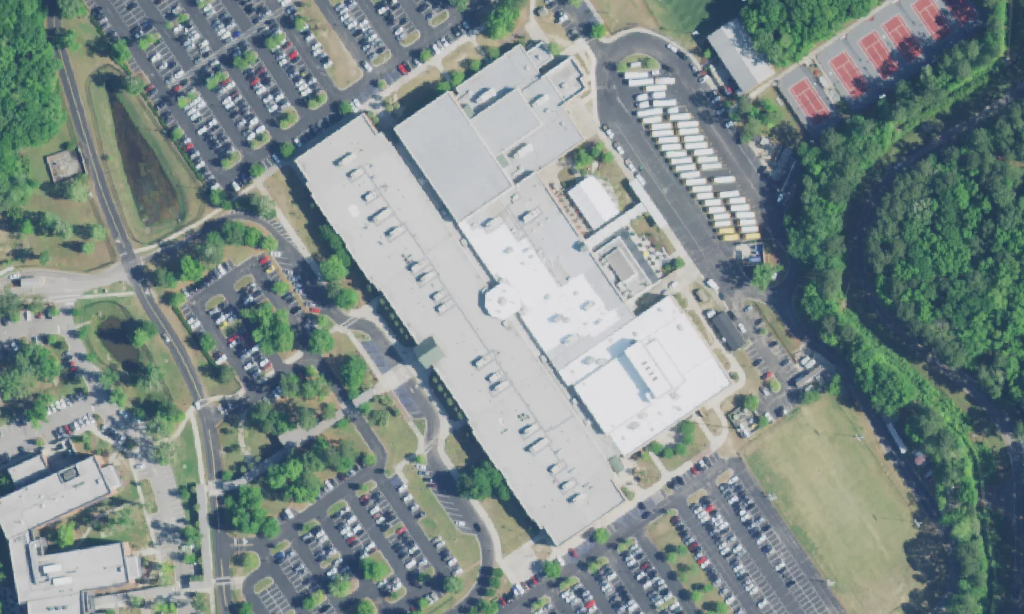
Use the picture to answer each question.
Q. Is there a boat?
No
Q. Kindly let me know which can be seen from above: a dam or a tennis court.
tennis court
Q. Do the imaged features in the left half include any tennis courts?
No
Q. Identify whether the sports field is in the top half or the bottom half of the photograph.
bottom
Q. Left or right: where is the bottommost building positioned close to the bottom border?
left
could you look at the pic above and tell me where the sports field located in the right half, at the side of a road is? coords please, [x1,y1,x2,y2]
[733,394,926,614]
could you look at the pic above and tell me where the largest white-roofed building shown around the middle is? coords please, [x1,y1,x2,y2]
[296,42,730,546]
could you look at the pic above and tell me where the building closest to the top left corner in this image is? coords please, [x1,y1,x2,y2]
[46,150,85,182]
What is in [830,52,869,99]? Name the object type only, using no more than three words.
tennis court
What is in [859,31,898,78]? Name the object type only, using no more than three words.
tennis court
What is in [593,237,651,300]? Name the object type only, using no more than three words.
building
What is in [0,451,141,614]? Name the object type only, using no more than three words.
building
